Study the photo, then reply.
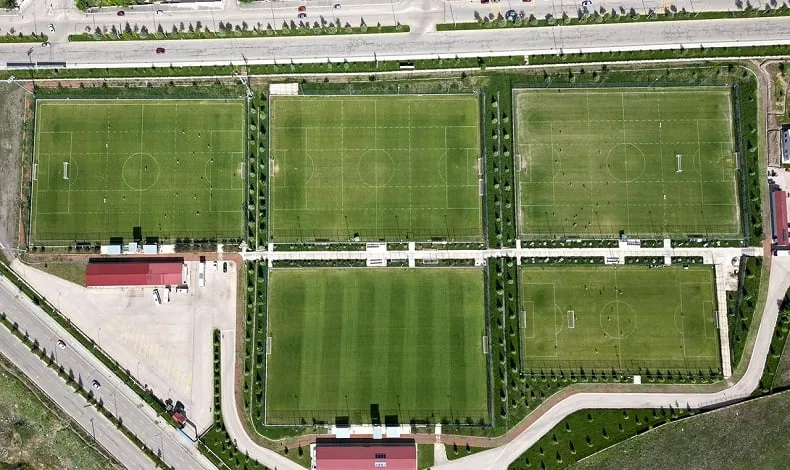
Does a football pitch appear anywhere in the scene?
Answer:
Yes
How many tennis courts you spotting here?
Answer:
none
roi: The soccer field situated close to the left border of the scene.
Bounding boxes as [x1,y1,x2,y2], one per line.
[31,98,248,246]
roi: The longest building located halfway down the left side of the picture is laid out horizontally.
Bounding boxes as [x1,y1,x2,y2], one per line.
[85,262,190,289]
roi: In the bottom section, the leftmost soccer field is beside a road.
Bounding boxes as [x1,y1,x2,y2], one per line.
[265,267,491,424]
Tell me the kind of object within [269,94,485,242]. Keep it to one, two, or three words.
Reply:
soccer field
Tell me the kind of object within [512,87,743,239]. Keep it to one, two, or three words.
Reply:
soccer field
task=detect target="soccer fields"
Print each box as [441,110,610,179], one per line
[512,87,743,239]
[269,94,485,242]
[265,267,491,424]
[31,98,248,246]
[521,265,722,374]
